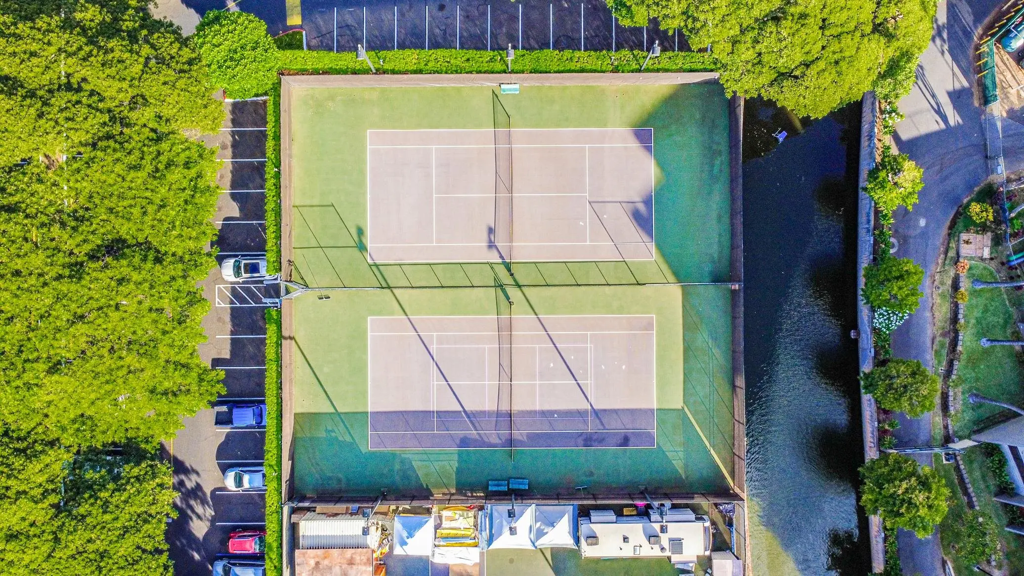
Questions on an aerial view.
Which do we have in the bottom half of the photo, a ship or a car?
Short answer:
car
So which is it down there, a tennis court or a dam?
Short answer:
tennis court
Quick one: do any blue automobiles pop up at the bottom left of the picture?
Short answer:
Yes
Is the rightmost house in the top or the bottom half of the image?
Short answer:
bottom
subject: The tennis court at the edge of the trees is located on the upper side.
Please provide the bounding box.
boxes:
[293,84,731,285]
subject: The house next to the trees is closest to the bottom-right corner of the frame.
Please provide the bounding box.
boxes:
[938,418,1024,506]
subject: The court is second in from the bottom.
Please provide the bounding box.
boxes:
[293,285,732,494]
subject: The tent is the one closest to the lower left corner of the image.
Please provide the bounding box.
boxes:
[394,509,436,554]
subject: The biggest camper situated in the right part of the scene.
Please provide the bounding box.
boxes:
[577,507,707,563]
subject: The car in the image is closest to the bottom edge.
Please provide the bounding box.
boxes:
[217,556,267,576]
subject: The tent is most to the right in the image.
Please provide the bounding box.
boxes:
[534,503,578,548]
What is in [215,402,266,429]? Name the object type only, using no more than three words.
vehicle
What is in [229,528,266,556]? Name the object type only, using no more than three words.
car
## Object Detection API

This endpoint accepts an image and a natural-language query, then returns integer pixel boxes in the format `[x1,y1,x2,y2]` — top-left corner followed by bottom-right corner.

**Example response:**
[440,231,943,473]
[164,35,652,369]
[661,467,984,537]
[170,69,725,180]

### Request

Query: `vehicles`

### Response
[577,507,707,563]
[217,556,267,576]
[215,402,266,429]
[222,255,281,283]
[229,528,266,556]
[227,465,269,492]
